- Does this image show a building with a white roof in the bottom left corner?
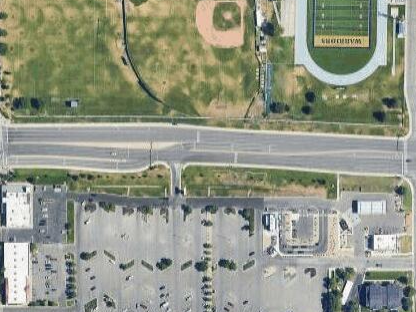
Yes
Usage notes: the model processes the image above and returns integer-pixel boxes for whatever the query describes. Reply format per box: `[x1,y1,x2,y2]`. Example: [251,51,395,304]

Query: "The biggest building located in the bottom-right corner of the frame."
[366,284,403,310]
